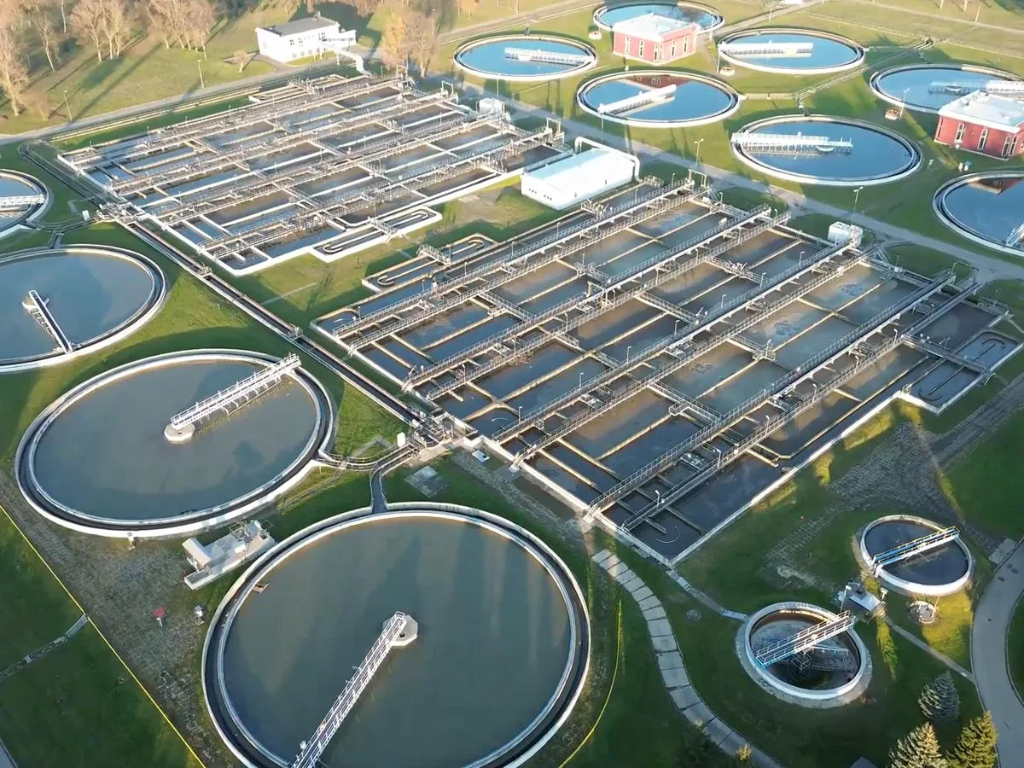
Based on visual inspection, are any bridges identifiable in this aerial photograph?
Yes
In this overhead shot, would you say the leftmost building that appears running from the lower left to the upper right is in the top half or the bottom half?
bottom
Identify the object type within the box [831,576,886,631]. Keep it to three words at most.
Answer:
building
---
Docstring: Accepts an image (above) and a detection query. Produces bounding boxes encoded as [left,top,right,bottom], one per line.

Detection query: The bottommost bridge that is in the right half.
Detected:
[750,607,861,676]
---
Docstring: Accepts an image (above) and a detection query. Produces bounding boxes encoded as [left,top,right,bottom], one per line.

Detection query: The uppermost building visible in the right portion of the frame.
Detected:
[610,14,701,65]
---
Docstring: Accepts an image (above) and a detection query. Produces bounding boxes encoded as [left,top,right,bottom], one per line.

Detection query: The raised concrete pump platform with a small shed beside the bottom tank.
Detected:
[177,508,283,592]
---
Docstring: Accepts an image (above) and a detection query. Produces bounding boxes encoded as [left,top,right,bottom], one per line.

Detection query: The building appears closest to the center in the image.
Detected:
[519,146,636,211]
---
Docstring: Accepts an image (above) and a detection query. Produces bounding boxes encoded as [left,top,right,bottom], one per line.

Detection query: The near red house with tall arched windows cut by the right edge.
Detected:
[934,88,1024,161]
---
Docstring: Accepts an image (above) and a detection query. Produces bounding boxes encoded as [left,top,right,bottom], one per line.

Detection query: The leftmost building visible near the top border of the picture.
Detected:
[256,12,337,62]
